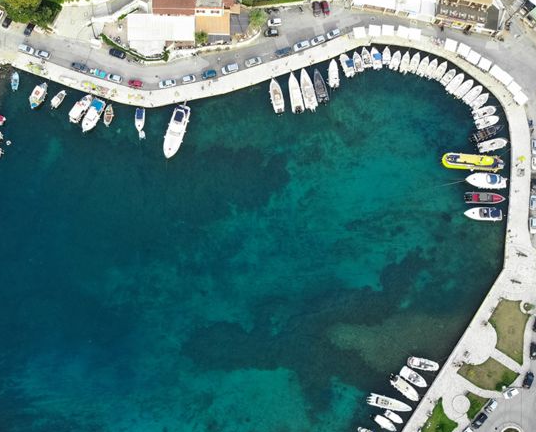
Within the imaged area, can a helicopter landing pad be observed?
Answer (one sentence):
No, there isn't any helicopter landing pad down there.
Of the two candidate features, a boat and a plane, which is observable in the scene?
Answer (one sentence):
Visible in the photo is a boat.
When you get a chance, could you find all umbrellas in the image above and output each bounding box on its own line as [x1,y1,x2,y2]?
[456,43,470,57]
[488,63,514,87]
[352,26,365,38]
[396,24,409,37]
[382,23,394,35]
[466,50,481,64]
[444,37,457,51]
[477,57,491,71]
[409,27,421,40]
[506,80,521,95]
[513,90,529,105]
[369,23,381,36]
